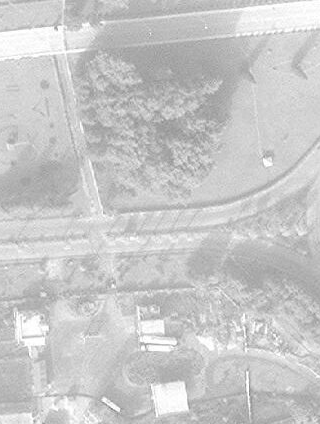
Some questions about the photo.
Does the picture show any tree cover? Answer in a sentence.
Yes, the picture does contain tree cover.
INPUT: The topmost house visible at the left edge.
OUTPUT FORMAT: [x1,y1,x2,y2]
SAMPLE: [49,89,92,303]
[16,312,49,357]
